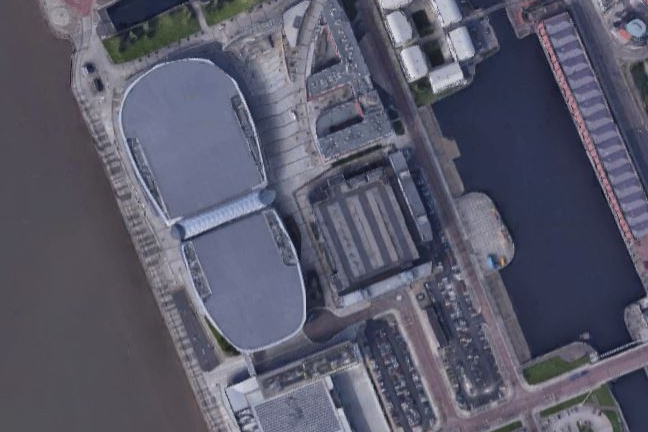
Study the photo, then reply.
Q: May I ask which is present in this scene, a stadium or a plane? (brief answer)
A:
stadium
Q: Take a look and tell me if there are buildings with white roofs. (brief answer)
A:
Yes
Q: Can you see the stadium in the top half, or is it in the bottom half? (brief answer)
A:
top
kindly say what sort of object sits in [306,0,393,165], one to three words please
building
